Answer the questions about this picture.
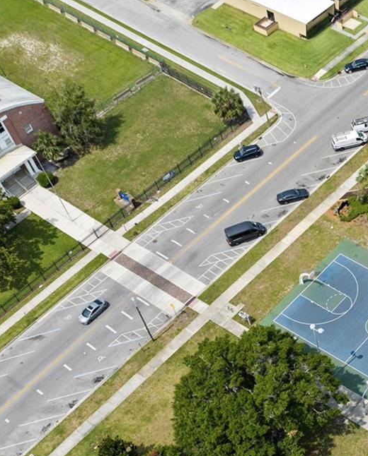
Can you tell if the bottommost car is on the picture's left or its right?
left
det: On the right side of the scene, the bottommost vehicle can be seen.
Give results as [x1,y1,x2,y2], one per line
[225,220,266,245]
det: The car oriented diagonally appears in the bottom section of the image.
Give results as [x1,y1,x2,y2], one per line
[76,298,113,326]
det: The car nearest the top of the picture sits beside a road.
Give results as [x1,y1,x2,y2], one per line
[345,59,368,73]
